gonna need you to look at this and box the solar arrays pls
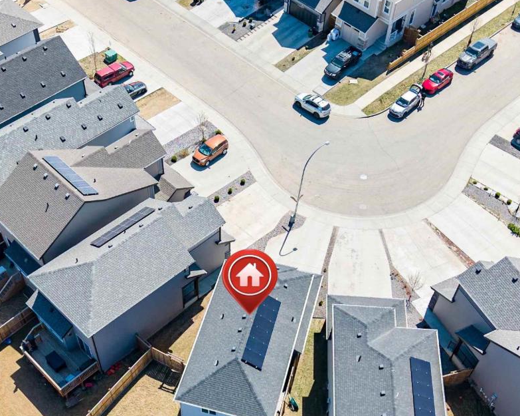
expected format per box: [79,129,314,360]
[409,358,435,416]
[43,156,98,194]
[241,295,281,370]
[91,207,154,248]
